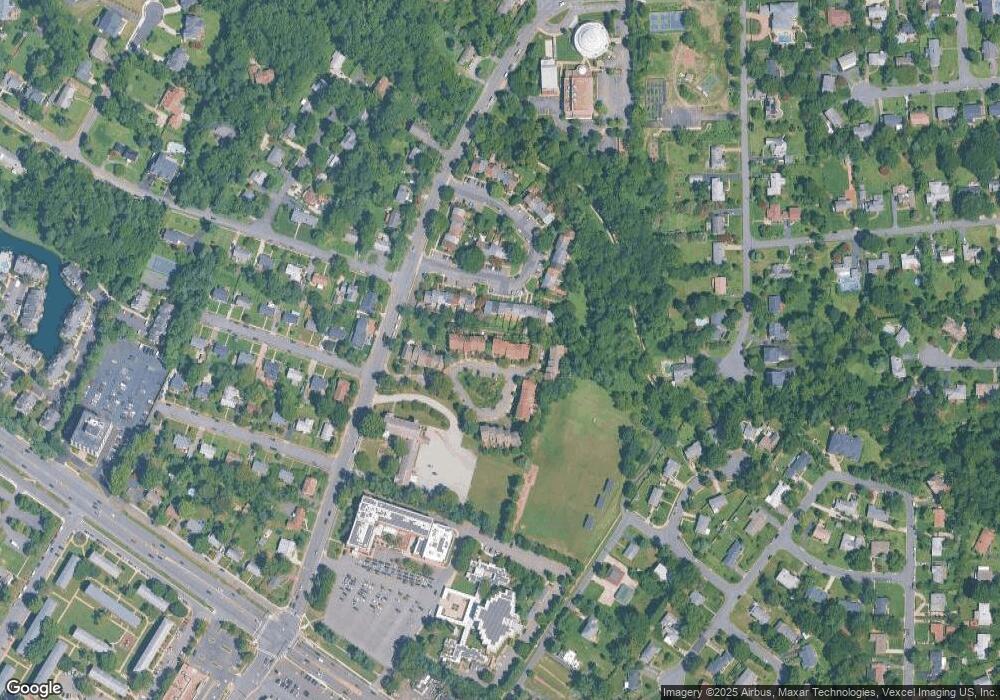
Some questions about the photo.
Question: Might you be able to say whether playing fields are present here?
Yes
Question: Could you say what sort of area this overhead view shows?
residential area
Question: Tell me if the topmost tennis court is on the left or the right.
right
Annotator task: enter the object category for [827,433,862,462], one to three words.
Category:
house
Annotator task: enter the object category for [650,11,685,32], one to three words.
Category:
tennis court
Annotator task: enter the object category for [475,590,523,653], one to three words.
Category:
building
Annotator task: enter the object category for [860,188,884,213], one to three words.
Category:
house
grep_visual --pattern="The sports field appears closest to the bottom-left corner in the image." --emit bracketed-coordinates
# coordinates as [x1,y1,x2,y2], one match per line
[466,455,521,526]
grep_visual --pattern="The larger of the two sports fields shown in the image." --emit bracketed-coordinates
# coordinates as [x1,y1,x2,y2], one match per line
[513,378,624,561]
